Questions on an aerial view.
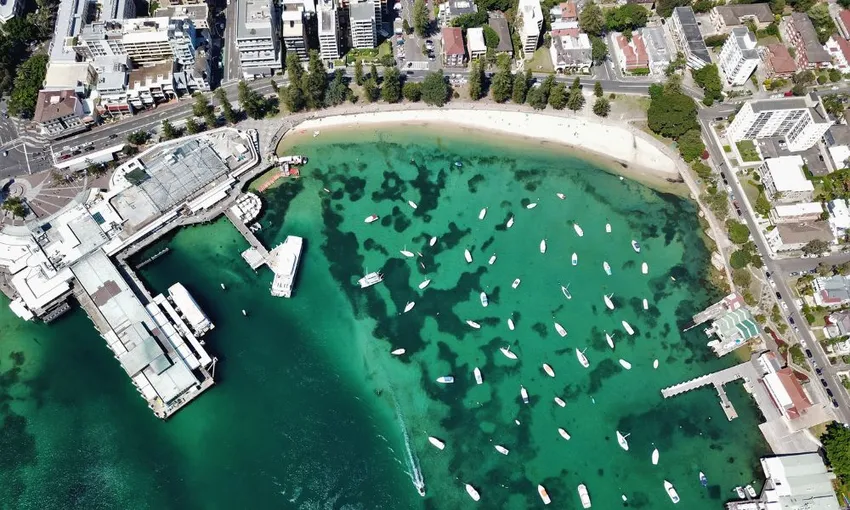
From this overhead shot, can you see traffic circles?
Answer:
No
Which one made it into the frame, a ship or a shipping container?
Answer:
ship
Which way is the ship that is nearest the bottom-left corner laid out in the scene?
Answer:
on a diagonal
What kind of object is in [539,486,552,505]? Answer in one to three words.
boat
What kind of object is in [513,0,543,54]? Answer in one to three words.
building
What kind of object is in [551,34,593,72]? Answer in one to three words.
house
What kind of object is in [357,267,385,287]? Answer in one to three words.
boat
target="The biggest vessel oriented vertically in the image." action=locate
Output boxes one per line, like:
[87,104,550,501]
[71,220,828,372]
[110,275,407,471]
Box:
[271,236,303,300]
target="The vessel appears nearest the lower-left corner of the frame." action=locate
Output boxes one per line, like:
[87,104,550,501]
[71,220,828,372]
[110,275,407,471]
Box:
[168,281,217,338]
